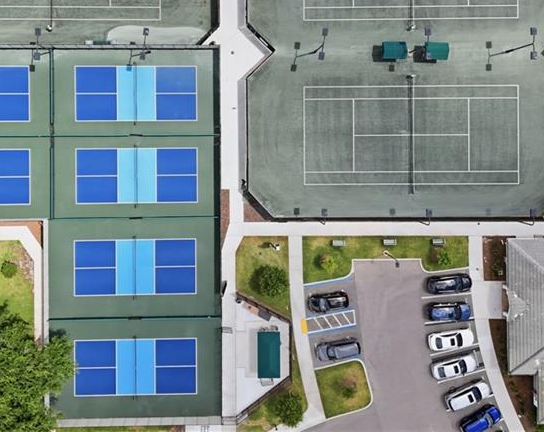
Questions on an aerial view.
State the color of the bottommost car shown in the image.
blue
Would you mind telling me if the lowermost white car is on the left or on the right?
right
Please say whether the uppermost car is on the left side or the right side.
right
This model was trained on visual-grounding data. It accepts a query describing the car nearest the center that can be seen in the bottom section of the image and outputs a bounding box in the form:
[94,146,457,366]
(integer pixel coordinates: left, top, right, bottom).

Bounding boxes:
[305,289,351,314]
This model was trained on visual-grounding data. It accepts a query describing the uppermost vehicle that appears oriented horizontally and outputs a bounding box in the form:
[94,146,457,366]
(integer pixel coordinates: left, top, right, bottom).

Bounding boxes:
[425,272,470,294]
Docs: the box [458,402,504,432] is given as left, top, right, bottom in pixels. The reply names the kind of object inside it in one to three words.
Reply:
car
